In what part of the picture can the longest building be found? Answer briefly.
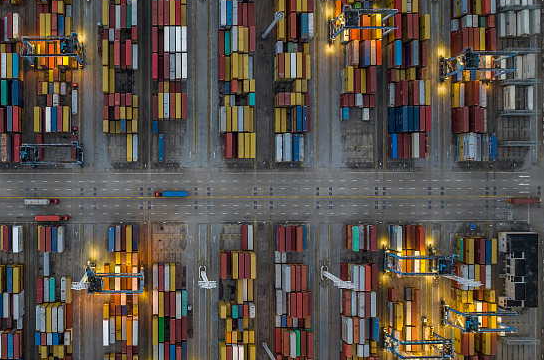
bottom right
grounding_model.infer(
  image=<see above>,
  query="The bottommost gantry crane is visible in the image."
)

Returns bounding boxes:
[384,323,459,360]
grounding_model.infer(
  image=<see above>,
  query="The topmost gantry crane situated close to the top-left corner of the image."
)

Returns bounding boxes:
[18,30,84,71]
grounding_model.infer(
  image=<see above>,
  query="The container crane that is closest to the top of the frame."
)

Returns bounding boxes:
[330,2,399,48]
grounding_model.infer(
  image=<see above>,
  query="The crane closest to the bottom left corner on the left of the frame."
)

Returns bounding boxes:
[84,258,146,296]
